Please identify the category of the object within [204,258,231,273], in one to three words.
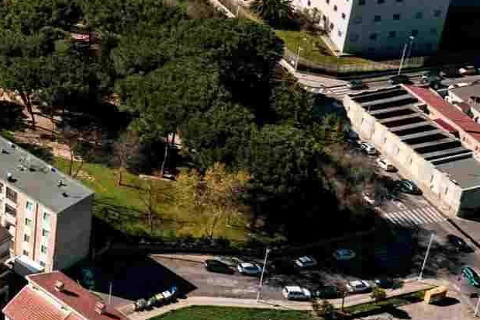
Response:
car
